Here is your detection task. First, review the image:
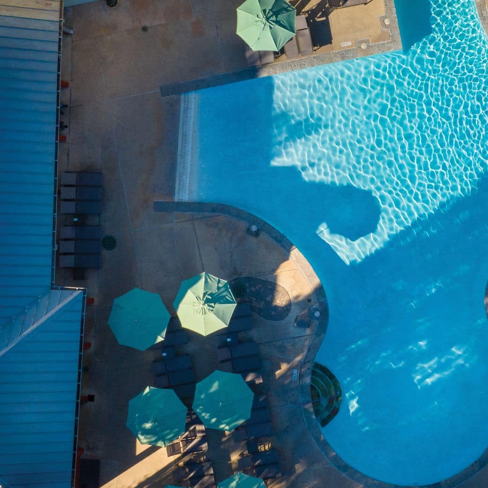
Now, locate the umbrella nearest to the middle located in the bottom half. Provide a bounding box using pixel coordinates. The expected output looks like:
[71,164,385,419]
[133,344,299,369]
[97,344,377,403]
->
[176,272,239,335]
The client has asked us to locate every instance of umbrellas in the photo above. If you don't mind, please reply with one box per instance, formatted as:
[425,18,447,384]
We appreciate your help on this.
[110,287,173,351]
[176,272,239,335]
[194,369,256,429]
[238,0,297,51]
[219,470,269,488]
[129,385,188,446]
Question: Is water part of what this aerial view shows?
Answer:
Yes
